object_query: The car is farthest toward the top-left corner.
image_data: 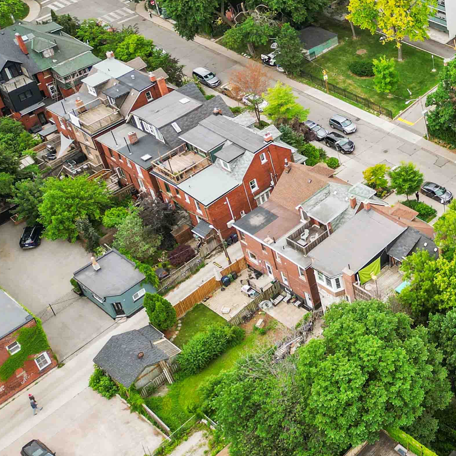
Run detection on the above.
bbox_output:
[191,66,222,88]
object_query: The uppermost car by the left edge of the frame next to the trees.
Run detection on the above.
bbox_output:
[14,219,50,254]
